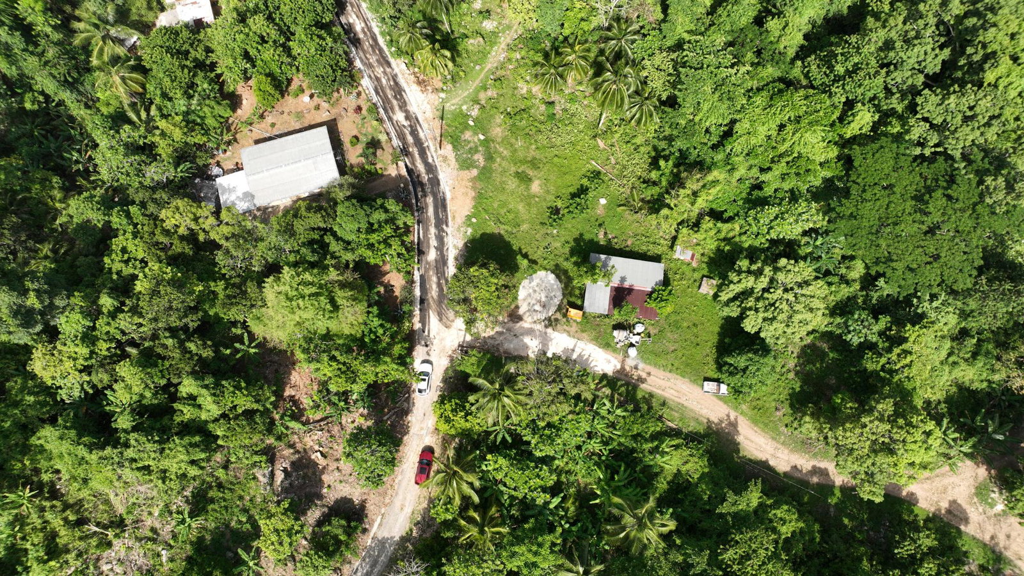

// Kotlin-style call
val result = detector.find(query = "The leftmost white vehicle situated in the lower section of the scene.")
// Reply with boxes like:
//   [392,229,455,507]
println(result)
[417,361,435,396]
